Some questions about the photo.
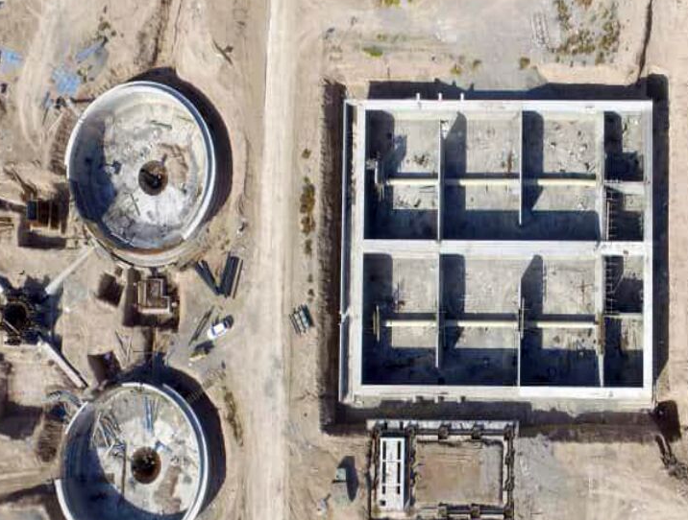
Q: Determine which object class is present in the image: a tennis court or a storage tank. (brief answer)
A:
storage tank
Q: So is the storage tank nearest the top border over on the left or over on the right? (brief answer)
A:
left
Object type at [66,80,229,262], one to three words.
storage tank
